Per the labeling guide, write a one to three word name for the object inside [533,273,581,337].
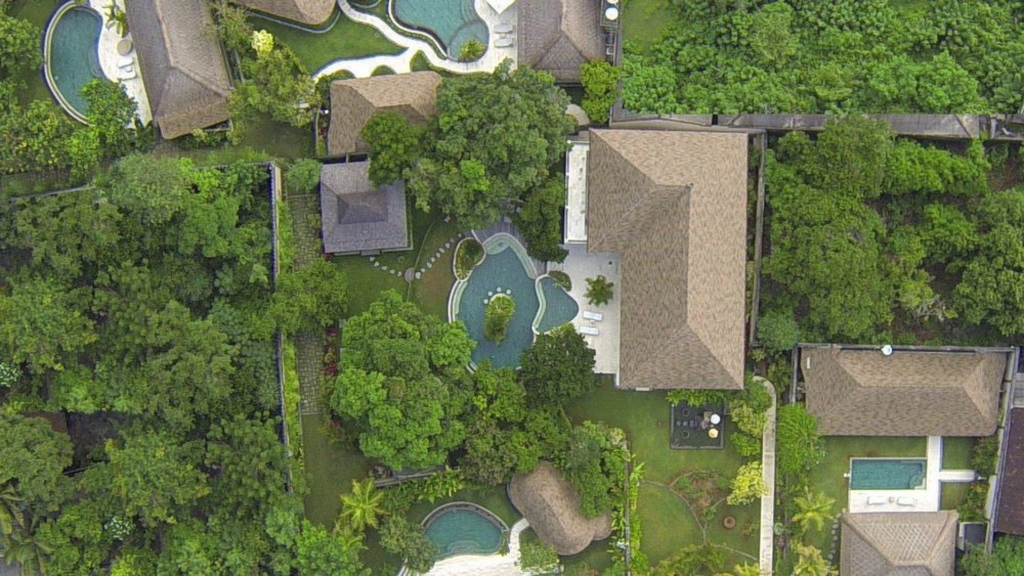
swimming pool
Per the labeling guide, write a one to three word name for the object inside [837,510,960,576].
house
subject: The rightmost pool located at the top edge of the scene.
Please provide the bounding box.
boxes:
[388,0,491,63]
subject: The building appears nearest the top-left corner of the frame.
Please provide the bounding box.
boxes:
[127,0,233,138]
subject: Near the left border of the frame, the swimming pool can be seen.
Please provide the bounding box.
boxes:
[41,0,115,126]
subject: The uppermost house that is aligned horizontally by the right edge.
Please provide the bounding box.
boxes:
[801,348,1006,437]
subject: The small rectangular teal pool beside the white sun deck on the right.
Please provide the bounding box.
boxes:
[850,458,928,492]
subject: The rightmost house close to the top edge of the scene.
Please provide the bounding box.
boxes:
[518,0,609,82]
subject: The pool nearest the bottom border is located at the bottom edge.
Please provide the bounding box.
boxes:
[421,501,510,564]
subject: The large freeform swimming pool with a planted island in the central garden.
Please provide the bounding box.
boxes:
[448,231,540,372]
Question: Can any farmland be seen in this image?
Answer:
No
